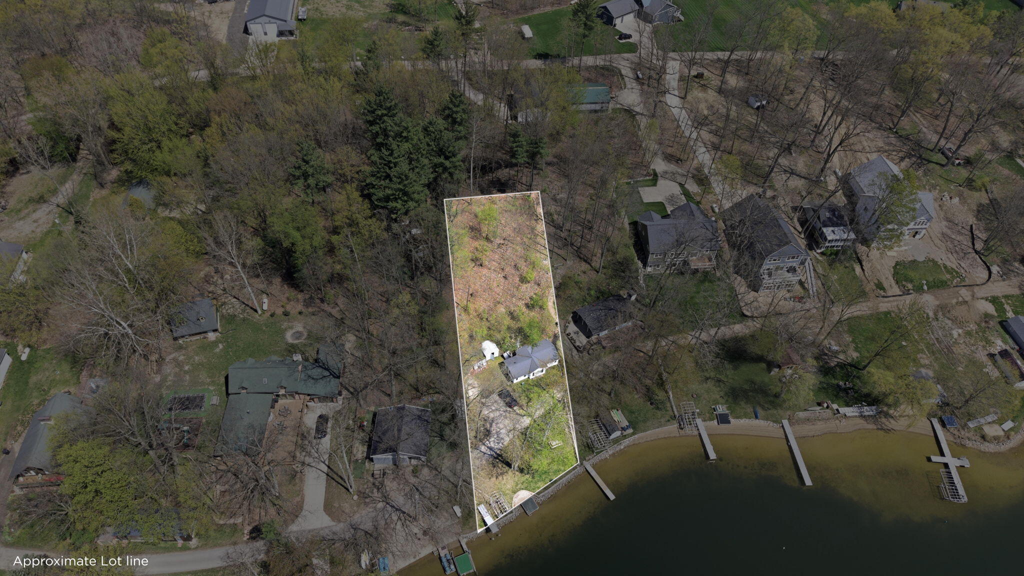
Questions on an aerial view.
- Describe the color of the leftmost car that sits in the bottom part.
black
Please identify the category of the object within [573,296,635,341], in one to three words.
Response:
building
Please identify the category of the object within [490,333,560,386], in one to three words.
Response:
house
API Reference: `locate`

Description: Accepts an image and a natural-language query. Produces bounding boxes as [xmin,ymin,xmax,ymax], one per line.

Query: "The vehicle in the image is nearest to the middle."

[496,386,520,409]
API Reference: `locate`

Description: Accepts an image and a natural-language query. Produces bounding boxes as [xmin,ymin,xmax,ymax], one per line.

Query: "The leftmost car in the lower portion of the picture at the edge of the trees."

[310,412,330,439]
